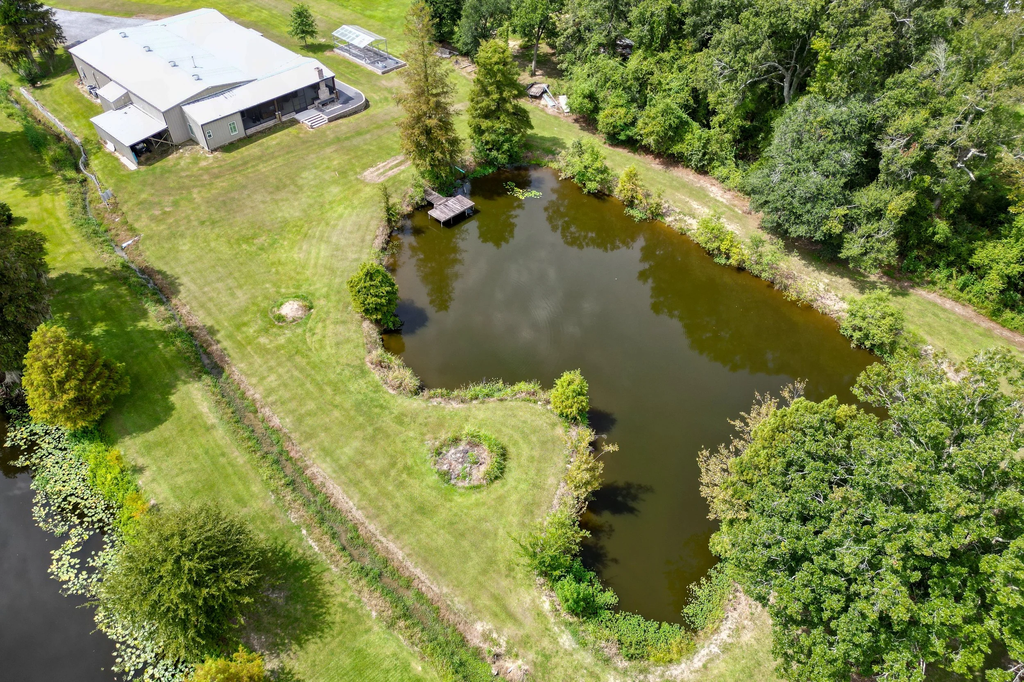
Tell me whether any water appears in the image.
Yes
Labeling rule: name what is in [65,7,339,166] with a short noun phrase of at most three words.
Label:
house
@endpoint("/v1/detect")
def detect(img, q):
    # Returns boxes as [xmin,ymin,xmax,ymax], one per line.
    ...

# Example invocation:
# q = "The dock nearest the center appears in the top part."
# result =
[411,185,475,230]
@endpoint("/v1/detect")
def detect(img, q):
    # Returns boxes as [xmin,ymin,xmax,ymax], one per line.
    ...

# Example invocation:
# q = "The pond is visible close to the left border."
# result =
[0,399,187,682]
